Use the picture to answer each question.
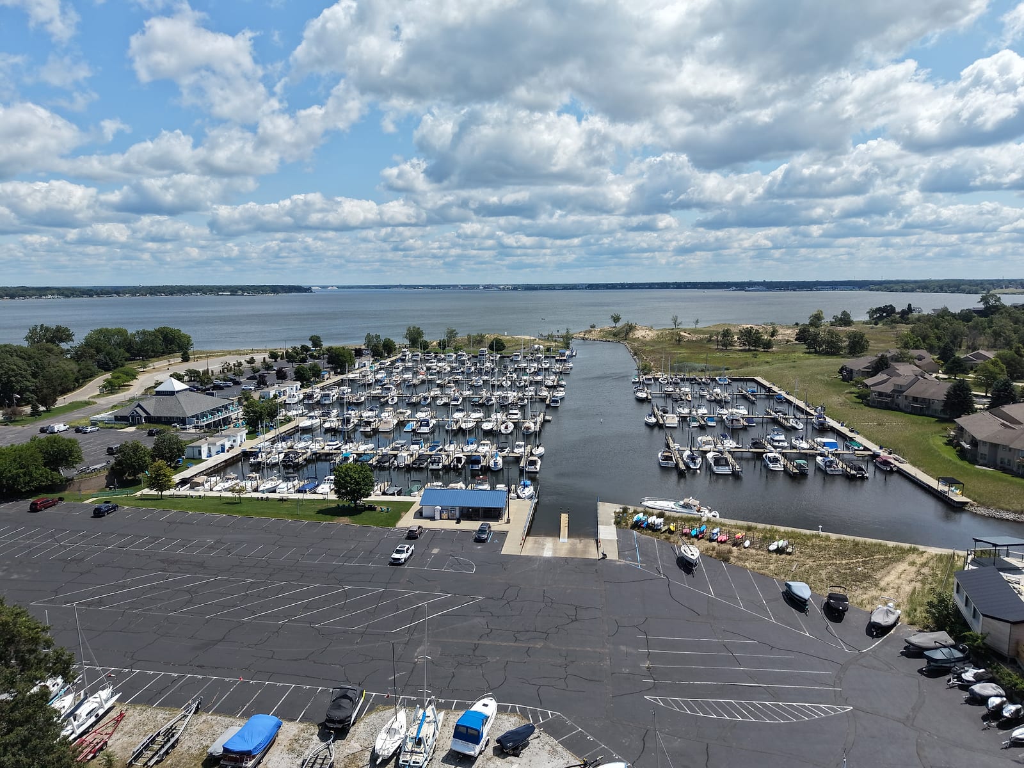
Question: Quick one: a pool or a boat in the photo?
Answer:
boat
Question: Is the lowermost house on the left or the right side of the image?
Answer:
right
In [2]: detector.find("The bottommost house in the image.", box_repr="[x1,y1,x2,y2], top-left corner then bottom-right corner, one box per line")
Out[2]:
[955,561,1024,658]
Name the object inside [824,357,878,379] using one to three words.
house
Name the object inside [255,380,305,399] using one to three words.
building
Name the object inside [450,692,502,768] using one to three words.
boat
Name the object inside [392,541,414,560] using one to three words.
vehicle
